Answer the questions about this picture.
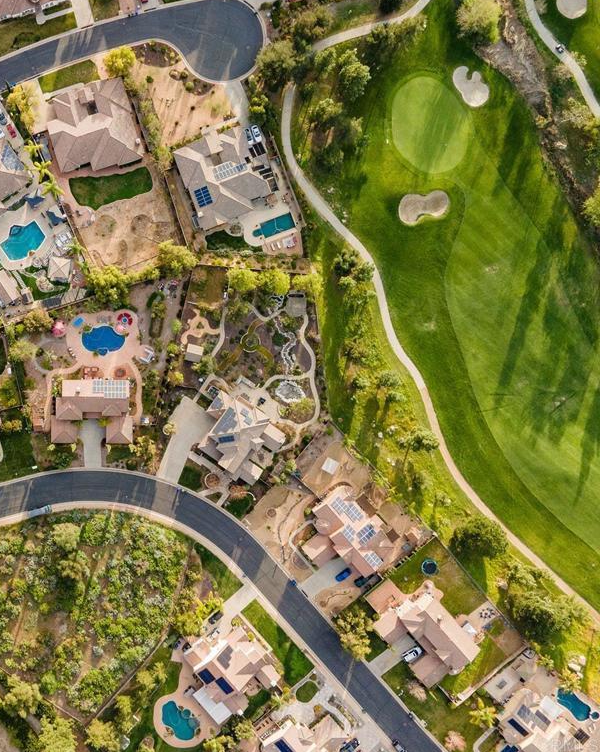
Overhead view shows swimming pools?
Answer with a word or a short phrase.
Yes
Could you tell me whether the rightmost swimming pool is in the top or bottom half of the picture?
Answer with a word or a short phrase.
bottom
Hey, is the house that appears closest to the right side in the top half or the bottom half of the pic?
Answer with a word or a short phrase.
bottom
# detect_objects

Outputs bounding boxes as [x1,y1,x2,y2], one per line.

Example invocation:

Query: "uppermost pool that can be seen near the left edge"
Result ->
[0,219,47,261]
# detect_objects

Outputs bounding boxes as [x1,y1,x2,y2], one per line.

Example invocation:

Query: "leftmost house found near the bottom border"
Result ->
[184,622,282,725]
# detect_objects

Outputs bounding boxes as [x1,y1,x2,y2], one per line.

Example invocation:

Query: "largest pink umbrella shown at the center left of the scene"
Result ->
[50,320,64,333]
